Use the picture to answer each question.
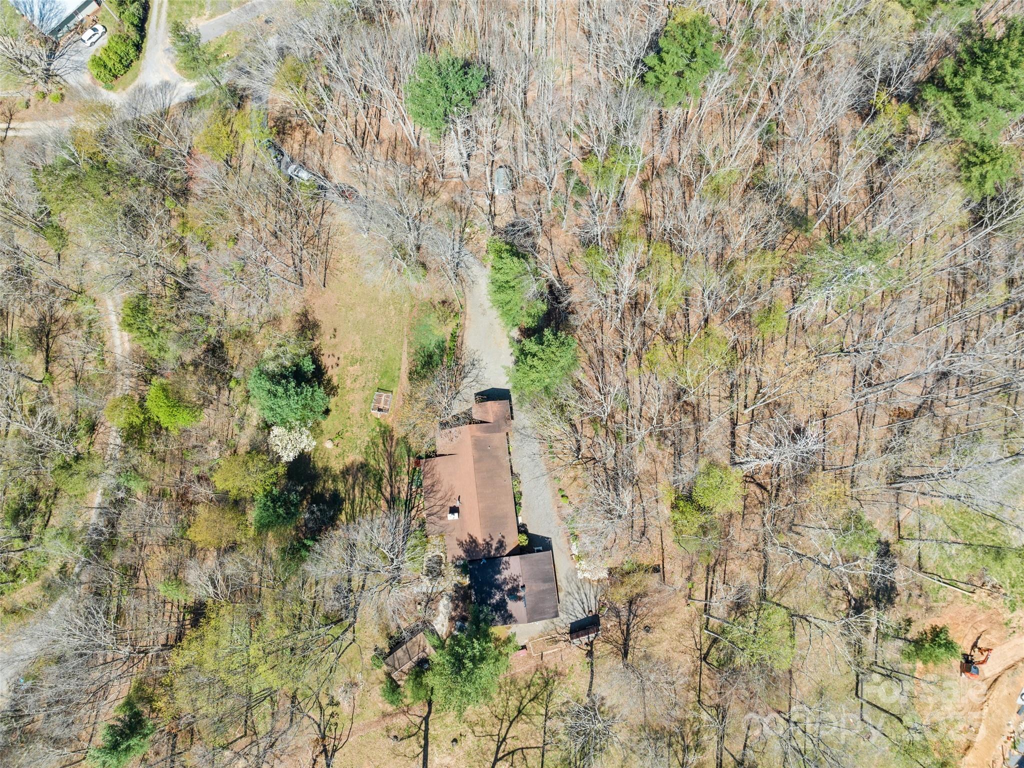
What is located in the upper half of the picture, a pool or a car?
car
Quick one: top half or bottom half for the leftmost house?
top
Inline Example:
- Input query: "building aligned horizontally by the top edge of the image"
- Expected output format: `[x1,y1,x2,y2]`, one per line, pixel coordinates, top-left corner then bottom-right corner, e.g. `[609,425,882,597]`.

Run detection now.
[13,0,120,45]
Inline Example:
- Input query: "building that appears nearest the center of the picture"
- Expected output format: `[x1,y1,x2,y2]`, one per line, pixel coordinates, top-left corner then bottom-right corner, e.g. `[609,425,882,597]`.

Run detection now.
[421,400,522,562]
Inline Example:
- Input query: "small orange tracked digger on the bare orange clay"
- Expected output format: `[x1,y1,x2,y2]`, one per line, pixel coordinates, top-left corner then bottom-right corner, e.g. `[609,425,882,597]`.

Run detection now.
[958,644,993,679]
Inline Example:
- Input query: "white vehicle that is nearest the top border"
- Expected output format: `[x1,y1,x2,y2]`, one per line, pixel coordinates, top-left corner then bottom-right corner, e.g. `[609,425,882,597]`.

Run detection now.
[76,23,108,48]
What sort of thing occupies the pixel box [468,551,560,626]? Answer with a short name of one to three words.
building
